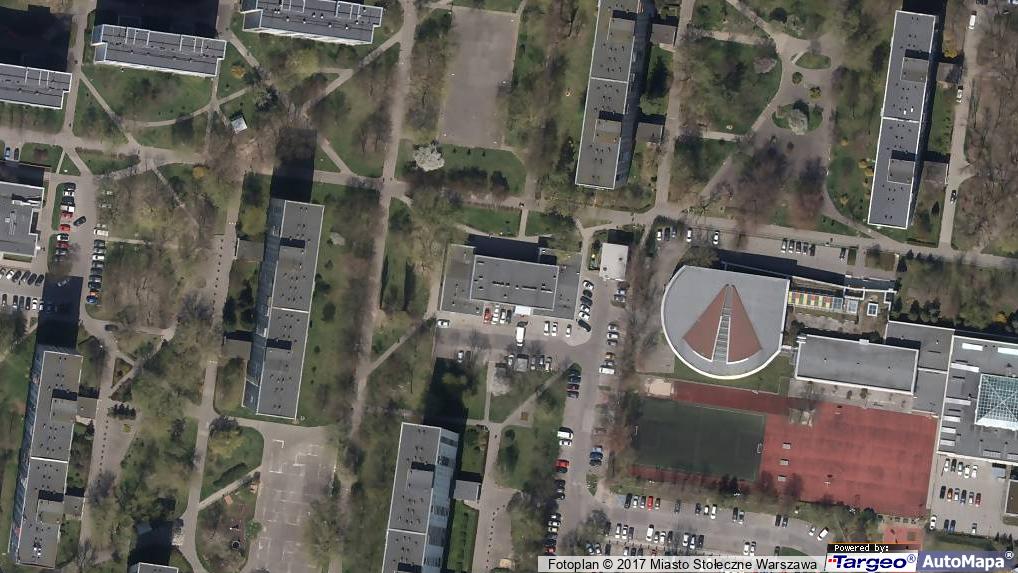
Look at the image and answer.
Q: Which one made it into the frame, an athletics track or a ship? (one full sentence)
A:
There is an athletics track in the scene.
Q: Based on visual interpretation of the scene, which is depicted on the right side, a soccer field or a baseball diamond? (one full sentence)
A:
The feature located on the right side is a soccer field.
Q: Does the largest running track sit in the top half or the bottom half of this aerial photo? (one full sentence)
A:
The largest running track is in the bottom half of the image.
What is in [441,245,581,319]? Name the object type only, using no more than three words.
building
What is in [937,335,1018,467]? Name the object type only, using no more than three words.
building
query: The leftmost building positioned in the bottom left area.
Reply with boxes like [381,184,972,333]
[7,346,100,568]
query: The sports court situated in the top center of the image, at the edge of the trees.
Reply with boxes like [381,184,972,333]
[438,5,517,147]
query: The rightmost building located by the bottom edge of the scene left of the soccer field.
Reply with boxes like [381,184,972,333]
[382,423,480,573]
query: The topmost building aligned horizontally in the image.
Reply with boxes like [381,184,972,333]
[241,0,383,45]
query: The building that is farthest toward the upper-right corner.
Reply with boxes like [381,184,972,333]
[869,11,961,229]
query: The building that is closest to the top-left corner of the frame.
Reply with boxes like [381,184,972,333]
[0,64,72,108]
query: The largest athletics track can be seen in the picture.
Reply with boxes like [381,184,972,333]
[643,380,824,415]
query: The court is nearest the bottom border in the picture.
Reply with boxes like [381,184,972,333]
[874,525,924,573]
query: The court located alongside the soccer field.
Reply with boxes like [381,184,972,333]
[757,401,935,516]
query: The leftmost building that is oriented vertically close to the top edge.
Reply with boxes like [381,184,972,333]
[577,0,676,188]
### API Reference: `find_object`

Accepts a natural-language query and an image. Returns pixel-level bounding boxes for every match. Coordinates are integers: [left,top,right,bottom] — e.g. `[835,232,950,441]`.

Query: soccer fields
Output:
[632,398,764,481]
